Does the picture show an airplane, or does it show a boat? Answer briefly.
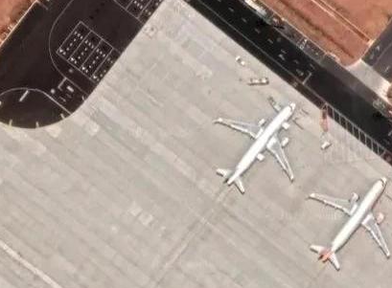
airplane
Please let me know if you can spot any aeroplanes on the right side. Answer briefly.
Yes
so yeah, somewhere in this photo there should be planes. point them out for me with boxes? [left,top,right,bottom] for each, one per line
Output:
[306,179,390,269]
[213,104,295,192]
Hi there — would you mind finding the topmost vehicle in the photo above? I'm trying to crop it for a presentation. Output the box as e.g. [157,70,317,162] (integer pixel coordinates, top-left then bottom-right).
[243,0,268,14]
